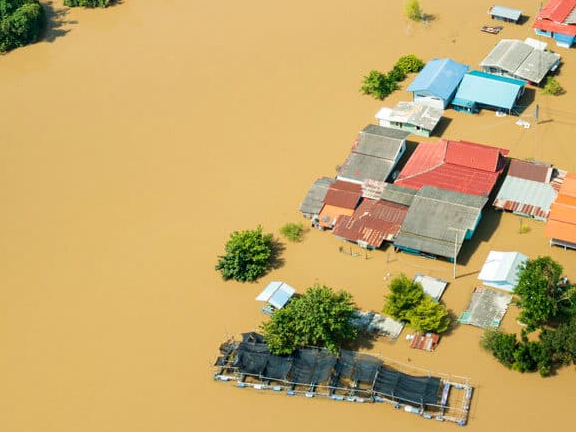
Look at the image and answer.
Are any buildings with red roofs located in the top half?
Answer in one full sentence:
Yes, the scene does show a building with a red roof in the top half.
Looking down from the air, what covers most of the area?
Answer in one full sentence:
For the most part, this view shows water.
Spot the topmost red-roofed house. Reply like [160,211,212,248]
[533,0,576,48]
